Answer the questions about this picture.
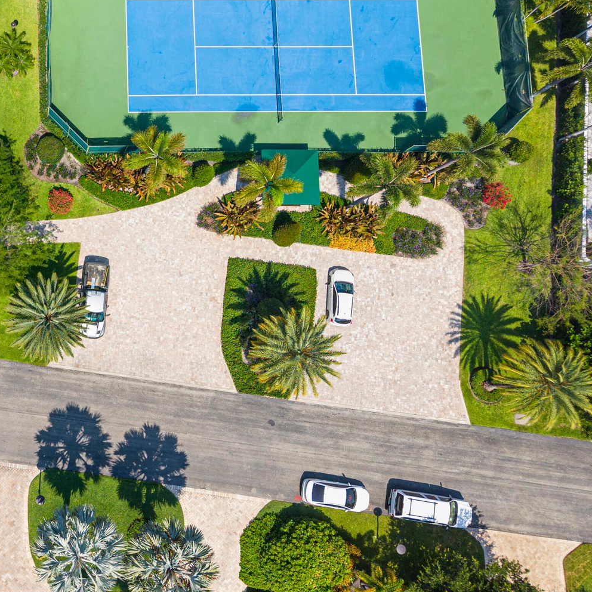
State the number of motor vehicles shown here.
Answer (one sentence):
Looking from above, you can make out 4 motor vehicles.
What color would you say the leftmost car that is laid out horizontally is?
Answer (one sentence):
The leftmost car that is laid out horizontally is white.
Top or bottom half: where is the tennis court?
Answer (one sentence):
Seen from above, the tennis court lies in the top half of the view.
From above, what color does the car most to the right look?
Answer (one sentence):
In this view, the car most to the right is white.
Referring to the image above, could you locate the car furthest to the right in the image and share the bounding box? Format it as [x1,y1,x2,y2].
[389,489,469,527]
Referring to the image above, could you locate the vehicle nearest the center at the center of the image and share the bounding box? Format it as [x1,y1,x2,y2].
[326,267,357,326]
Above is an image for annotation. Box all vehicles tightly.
[79,259,109,337]
[301,479,367,514]
[389,489,469,527]
[326,267,357,326]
